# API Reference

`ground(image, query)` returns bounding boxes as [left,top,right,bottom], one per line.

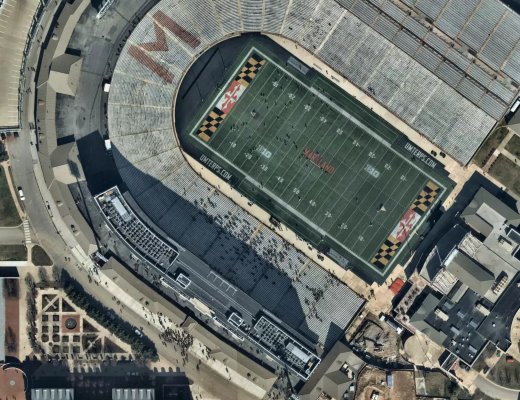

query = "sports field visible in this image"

[176,32,459,288]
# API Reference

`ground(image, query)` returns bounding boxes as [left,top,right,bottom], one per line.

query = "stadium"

[108,0,520,349]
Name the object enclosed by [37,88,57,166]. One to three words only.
building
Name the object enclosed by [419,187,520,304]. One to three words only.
house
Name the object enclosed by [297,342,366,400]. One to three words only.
building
